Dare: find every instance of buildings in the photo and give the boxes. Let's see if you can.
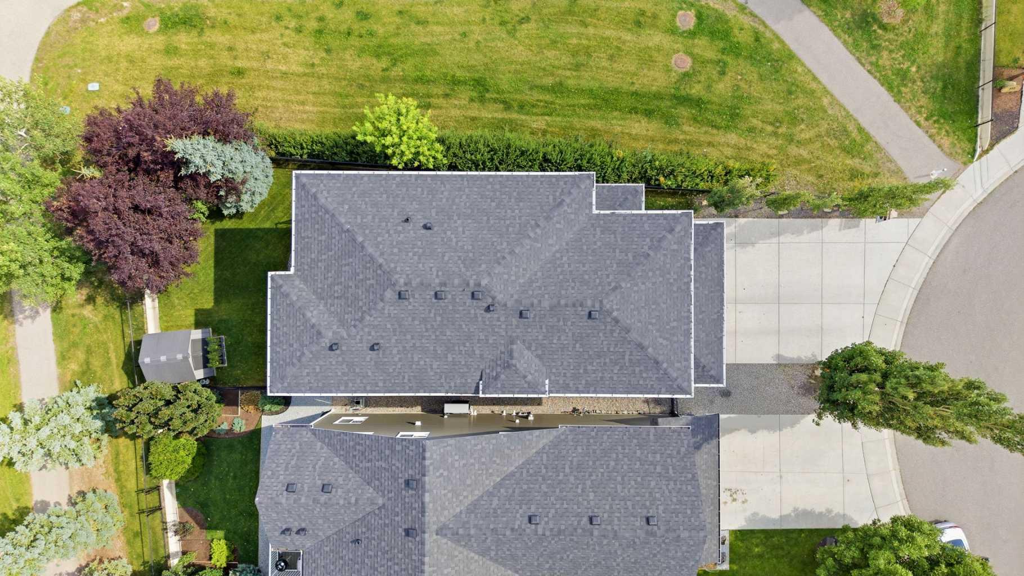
[267,171,725,398]
[139,329,218,385]
[256,410,720,576]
